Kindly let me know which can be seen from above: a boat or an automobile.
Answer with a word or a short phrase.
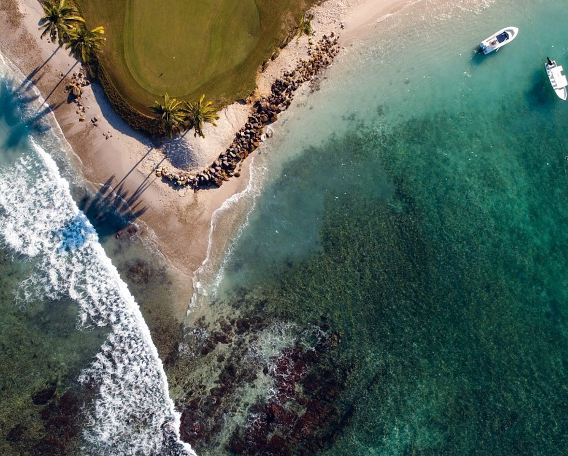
boat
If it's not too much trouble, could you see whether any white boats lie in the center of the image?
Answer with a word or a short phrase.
No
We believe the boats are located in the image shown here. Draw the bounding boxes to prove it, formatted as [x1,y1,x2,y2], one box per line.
[544,57,568,100]
[479,26,521,55]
